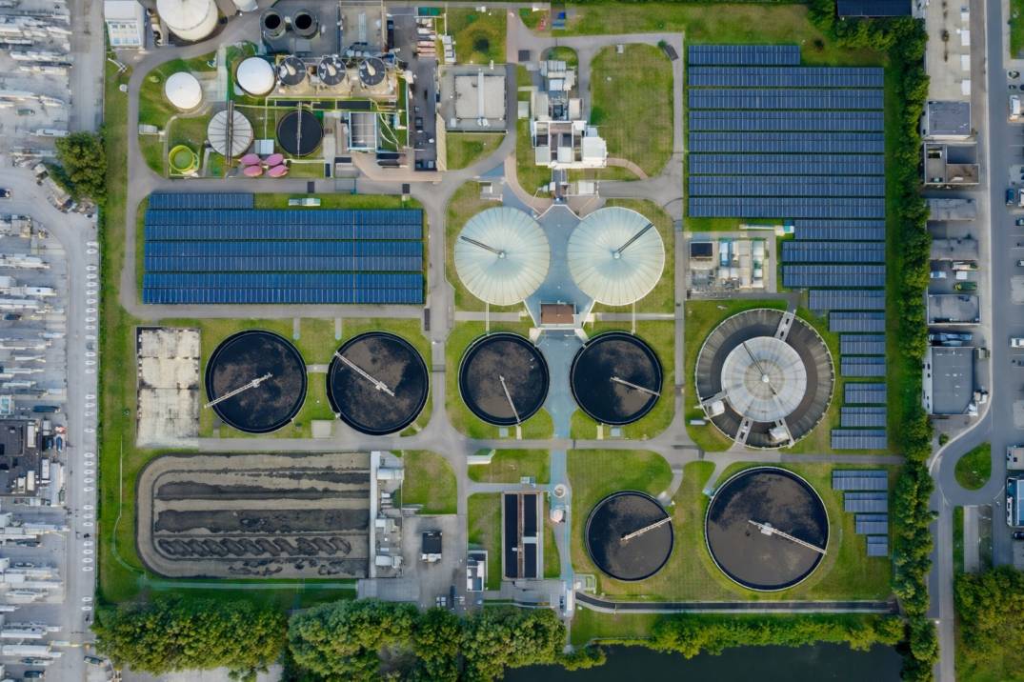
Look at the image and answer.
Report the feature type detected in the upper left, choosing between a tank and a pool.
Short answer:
tank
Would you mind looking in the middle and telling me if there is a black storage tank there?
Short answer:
Yes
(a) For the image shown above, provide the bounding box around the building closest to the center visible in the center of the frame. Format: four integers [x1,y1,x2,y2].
[540,301,575,327]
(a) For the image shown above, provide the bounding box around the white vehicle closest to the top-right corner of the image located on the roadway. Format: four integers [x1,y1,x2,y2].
[1009,96,1021,119]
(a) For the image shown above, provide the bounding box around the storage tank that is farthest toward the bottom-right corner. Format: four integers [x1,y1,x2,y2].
[705,467,830,592]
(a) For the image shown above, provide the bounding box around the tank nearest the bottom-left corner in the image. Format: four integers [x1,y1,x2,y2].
[201,330,308,434]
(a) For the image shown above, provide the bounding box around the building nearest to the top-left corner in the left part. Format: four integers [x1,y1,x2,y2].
[104,0,152,49]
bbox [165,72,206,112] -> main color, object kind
white storage tank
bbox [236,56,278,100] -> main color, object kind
white storage tank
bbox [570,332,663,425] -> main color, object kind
black storage tank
